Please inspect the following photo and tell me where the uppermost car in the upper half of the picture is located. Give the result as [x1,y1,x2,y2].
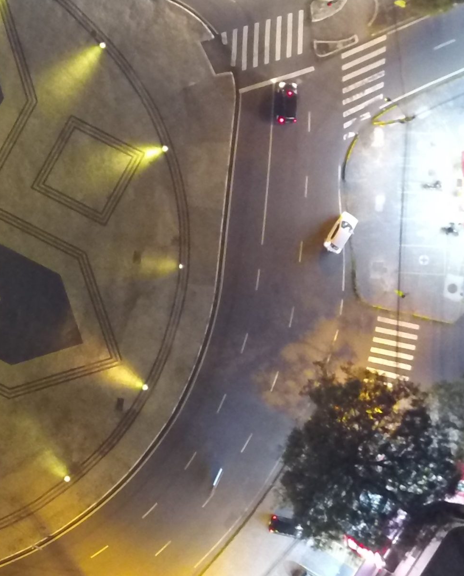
[273,81,299,126]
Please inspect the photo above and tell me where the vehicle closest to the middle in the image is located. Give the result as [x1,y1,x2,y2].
[323,212,355,254]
